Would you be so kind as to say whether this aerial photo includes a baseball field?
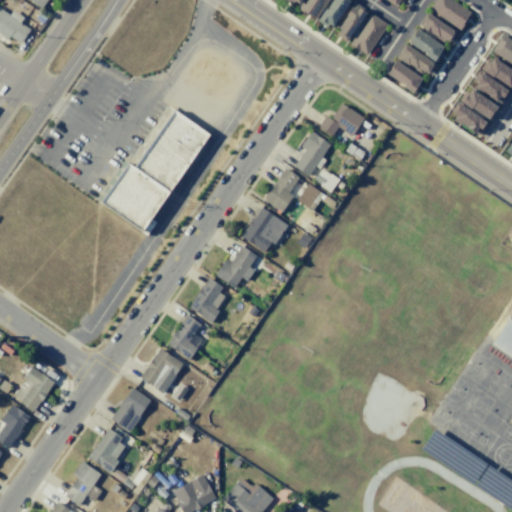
Yes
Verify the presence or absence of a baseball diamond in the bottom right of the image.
Yes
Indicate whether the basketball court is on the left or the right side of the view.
right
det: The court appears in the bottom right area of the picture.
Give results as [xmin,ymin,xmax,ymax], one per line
[432,327,512,481]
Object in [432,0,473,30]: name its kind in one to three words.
house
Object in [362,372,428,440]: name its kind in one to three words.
baseball field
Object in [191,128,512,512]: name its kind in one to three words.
sports field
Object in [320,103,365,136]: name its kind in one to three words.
house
